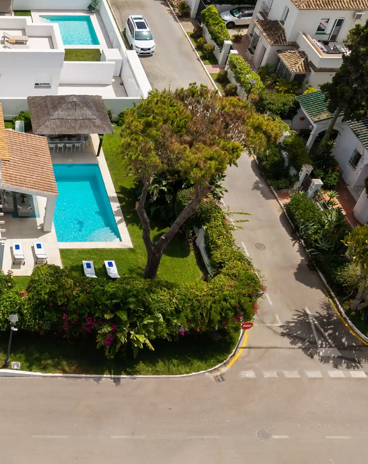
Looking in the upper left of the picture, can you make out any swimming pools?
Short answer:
Yes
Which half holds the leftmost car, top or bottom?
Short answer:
top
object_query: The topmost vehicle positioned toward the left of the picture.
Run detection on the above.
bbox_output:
[125,13,159,51]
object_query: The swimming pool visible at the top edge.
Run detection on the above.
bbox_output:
[39,15,99,45]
